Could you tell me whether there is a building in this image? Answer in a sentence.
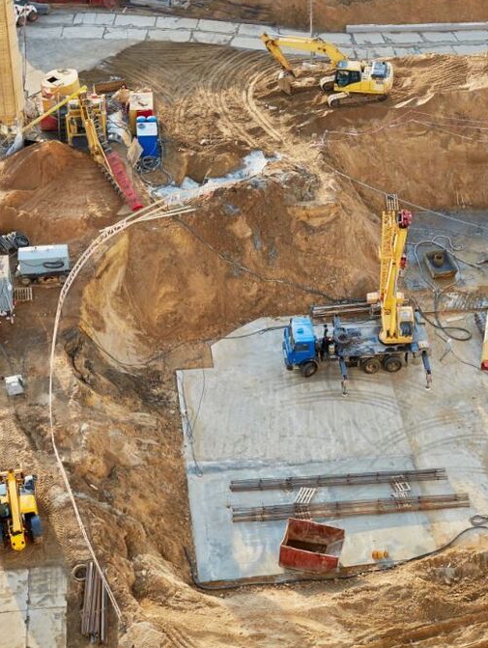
Yes, the image includes a building.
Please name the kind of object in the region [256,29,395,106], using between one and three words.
work vehicle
